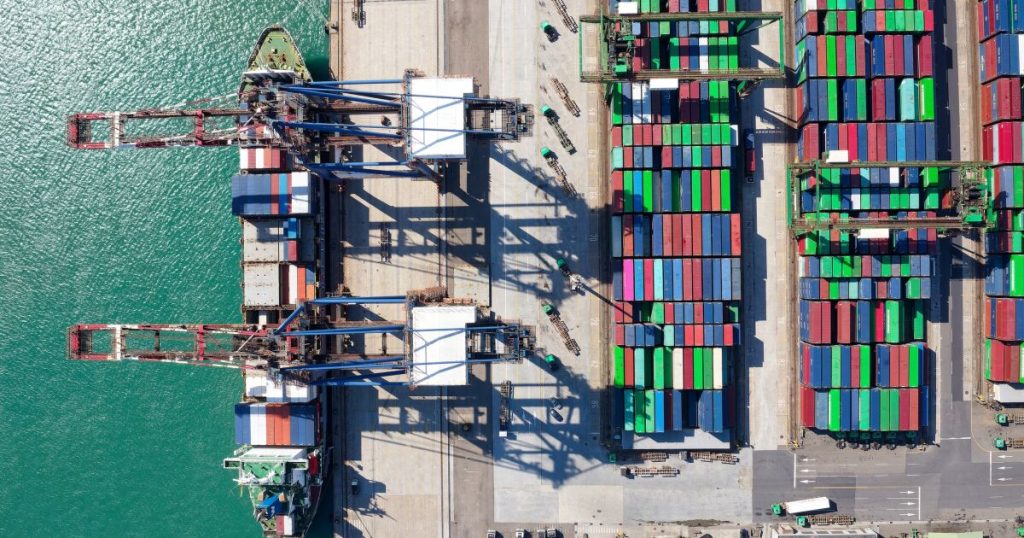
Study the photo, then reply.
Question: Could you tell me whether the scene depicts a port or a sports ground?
port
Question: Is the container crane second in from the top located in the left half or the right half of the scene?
left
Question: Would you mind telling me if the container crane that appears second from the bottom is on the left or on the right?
right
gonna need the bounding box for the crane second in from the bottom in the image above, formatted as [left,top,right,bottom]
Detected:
[785,150,993,256]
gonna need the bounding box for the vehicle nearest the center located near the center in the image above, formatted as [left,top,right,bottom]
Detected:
[555,257,573,279]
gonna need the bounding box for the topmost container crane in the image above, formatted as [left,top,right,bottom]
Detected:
[579,2,784,102]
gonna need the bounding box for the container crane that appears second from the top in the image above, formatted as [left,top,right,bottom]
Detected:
[66,75,536,197]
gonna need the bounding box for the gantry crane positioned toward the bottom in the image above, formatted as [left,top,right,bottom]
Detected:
[65,286,538,386]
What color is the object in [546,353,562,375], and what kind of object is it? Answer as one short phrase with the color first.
green vehicle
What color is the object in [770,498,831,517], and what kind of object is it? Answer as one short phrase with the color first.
white vehicle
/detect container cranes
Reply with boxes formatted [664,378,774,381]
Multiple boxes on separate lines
[66,75,536,197]
[579,2,784,102]
[785,150,993,256]
[65,286,538,386]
